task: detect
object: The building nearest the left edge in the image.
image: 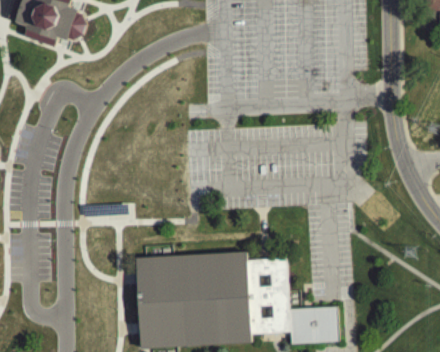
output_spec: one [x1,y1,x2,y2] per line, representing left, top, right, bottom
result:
[16,0,91,45]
